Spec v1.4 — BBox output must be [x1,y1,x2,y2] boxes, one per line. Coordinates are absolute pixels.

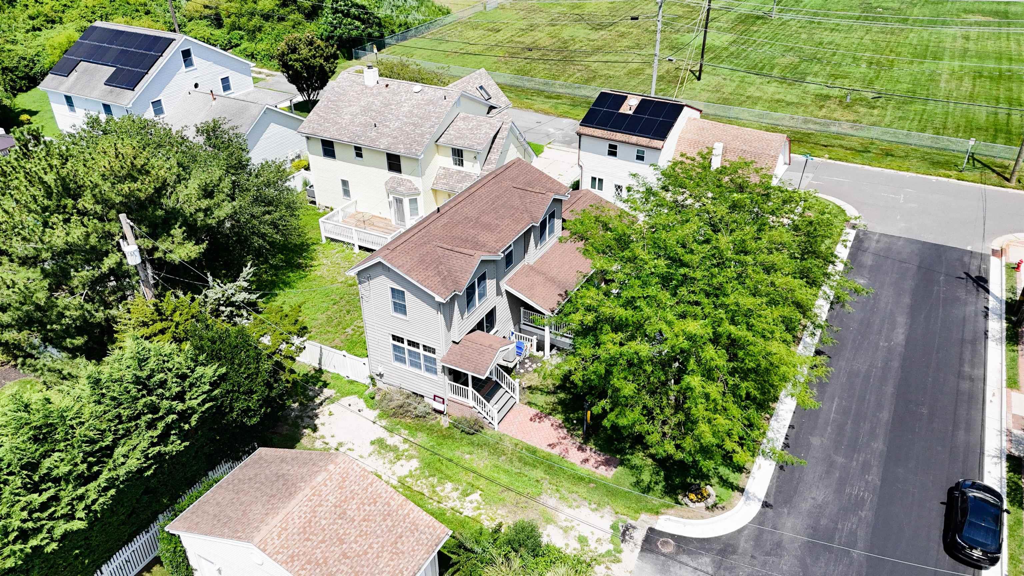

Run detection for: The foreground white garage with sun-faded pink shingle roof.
[163,448,454,576]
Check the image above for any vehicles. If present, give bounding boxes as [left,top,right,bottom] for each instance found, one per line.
[940,479,1014,573]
